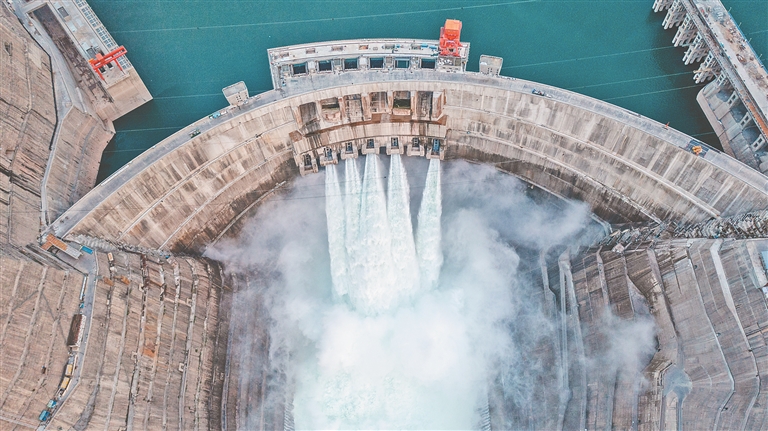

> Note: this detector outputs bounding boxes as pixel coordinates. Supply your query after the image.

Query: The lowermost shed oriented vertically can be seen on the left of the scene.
[68,313,88,348]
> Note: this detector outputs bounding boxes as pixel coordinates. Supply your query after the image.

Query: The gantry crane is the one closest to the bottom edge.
[86,45,130,85]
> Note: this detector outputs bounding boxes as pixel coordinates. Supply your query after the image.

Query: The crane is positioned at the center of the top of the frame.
[439,24,460,58]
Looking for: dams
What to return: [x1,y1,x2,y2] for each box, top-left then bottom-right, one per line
[42,35,768,265]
